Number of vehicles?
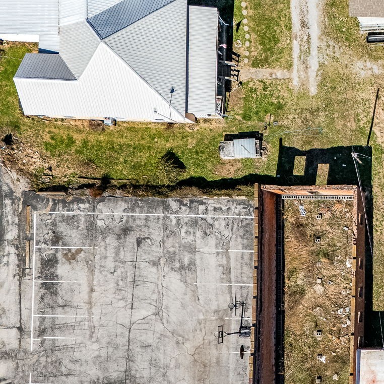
0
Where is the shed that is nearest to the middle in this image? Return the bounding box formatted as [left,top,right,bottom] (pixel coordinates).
[220,139,263,159]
